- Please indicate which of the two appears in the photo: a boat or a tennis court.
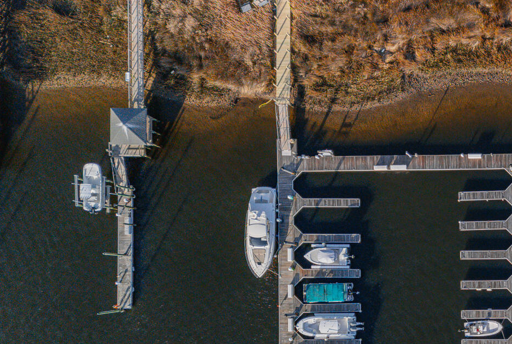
boat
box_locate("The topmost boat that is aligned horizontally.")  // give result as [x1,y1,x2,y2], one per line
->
[303,248,359,265]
